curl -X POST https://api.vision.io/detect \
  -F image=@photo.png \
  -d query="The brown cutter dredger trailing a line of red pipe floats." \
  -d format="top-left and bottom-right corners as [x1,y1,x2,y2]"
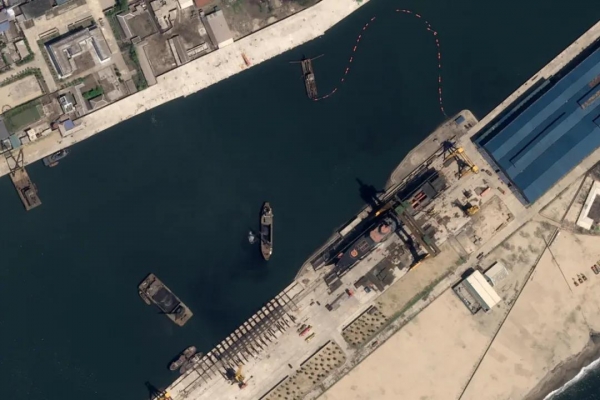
[291,55,322,99]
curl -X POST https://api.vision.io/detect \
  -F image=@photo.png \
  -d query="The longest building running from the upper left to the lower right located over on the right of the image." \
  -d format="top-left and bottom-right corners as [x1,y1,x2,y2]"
[464,270,502,310]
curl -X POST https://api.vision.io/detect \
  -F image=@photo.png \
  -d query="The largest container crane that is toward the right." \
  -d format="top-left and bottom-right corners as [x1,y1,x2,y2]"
[372,184,440,272]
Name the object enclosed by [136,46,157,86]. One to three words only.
shed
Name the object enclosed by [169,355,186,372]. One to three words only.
boat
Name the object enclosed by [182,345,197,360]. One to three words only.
boat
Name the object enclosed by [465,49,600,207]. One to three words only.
building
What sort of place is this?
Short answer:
port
